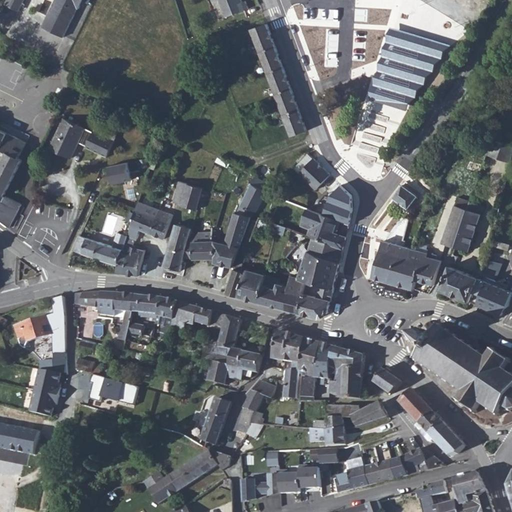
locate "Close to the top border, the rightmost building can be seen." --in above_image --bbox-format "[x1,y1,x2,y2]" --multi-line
[368,22,452,110]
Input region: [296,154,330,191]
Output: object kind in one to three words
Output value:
house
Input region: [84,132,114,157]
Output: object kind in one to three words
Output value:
shed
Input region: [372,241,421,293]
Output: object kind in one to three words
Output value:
building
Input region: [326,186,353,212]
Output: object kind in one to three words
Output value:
house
